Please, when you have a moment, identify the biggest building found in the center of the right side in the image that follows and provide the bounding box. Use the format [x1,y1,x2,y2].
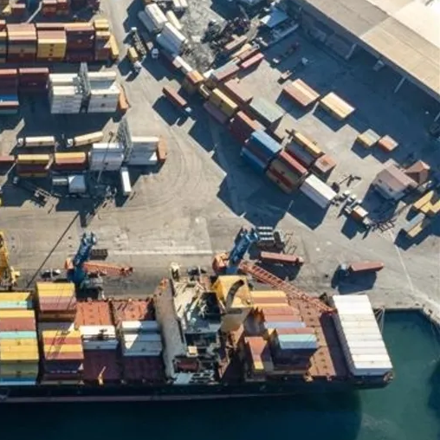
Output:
[375,161,422,198]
